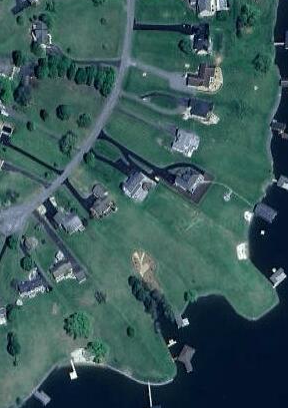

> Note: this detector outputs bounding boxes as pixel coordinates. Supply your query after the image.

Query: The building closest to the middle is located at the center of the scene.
[122,171,154,201]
